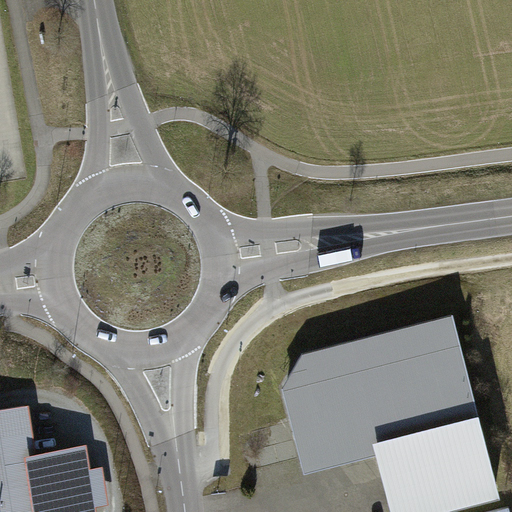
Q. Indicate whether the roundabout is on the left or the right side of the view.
left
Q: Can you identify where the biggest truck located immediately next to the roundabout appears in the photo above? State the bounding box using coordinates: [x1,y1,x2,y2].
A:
[318,246,363,268]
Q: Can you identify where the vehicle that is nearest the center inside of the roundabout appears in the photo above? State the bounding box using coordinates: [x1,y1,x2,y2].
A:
[219,284,238,304]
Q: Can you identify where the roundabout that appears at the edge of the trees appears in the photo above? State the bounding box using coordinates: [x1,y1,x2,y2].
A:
[0,83,312,446]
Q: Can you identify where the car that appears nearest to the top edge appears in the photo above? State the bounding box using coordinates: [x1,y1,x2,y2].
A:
[182,196,200,218]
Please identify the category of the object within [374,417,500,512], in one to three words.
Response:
building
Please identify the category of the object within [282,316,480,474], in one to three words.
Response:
building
